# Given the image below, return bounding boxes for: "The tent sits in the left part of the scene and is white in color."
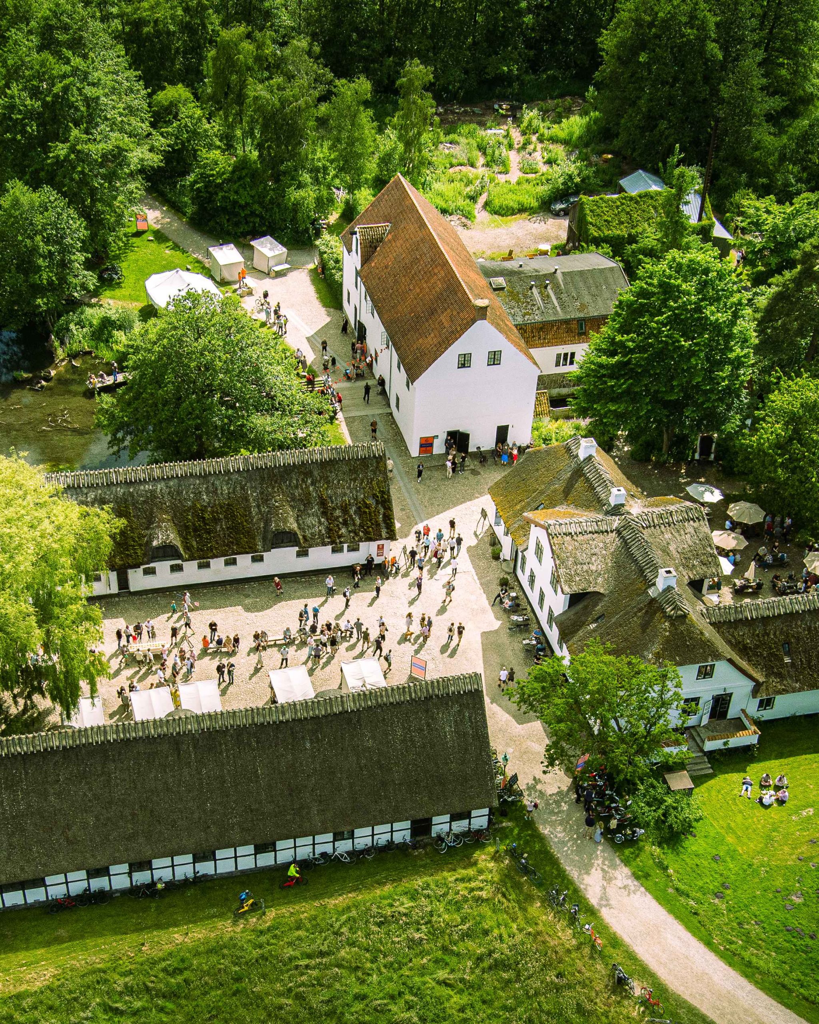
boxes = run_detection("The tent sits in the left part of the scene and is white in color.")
[141,273,233,323]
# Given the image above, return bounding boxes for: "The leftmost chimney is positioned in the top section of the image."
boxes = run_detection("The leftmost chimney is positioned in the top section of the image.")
[473,288,492,322]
